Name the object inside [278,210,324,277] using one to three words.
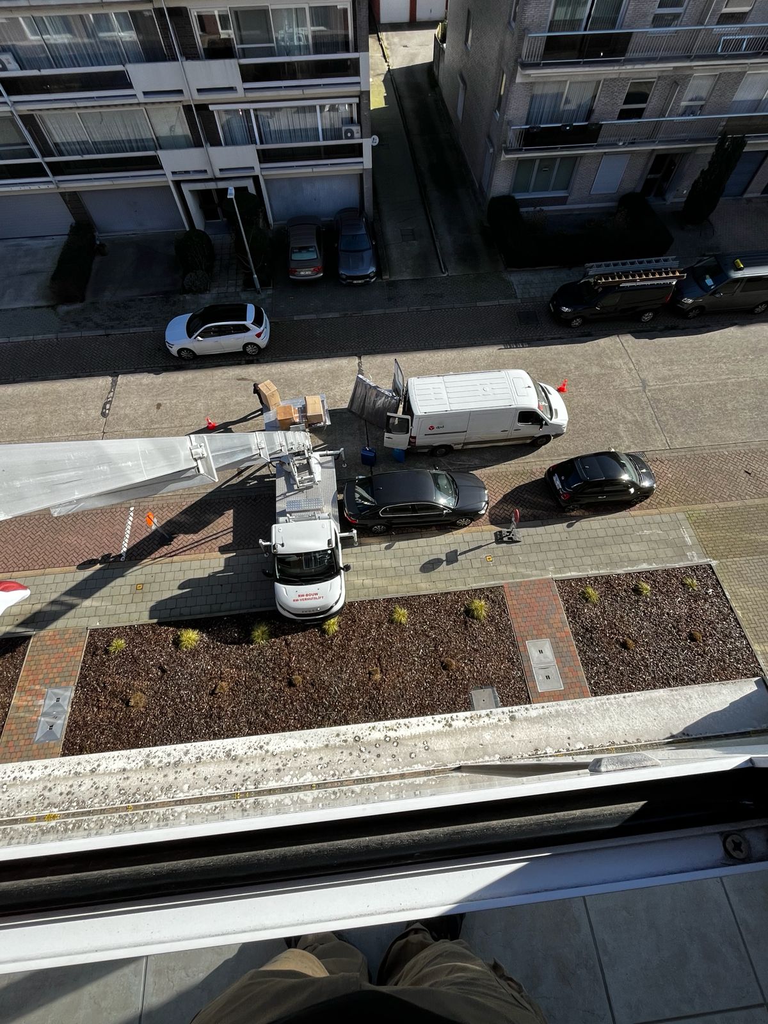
car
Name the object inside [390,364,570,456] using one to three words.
van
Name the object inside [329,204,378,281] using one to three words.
car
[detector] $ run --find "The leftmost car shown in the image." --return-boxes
[163,301,269,360]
